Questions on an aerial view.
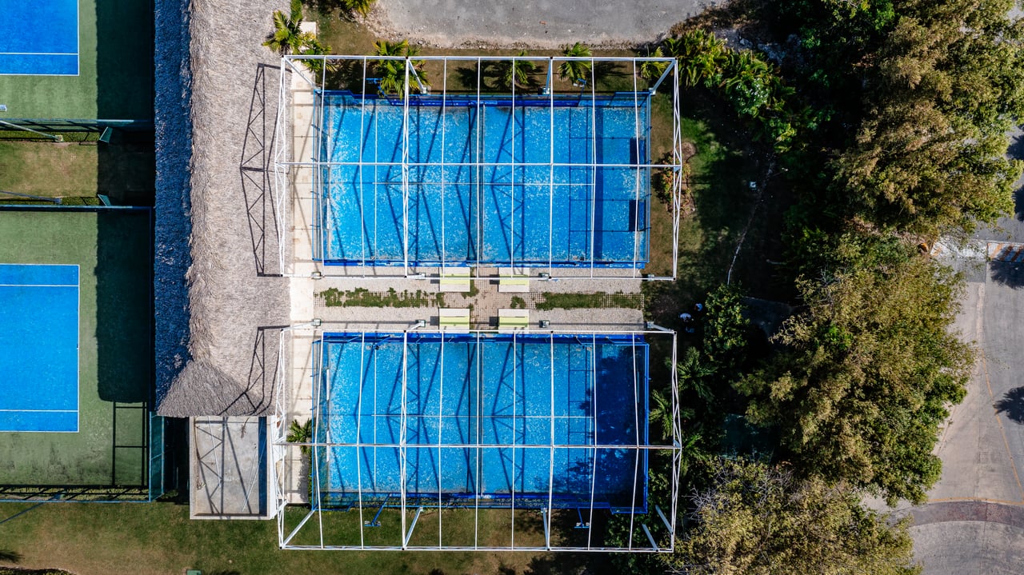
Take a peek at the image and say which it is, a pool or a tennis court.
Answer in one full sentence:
This aerial view contains a tennis court.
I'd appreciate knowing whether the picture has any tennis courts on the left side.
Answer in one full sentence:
Yes, a tennis court is visible on the left side.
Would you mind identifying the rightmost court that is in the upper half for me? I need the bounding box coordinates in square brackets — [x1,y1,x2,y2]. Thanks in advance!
[307,90,655,267]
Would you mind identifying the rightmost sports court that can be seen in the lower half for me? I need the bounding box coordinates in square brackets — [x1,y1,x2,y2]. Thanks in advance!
[307,333,655,512]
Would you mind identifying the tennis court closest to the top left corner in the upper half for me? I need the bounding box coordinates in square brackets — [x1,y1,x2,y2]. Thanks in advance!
[0,0,155,131]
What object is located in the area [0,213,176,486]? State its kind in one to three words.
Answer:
tennis court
